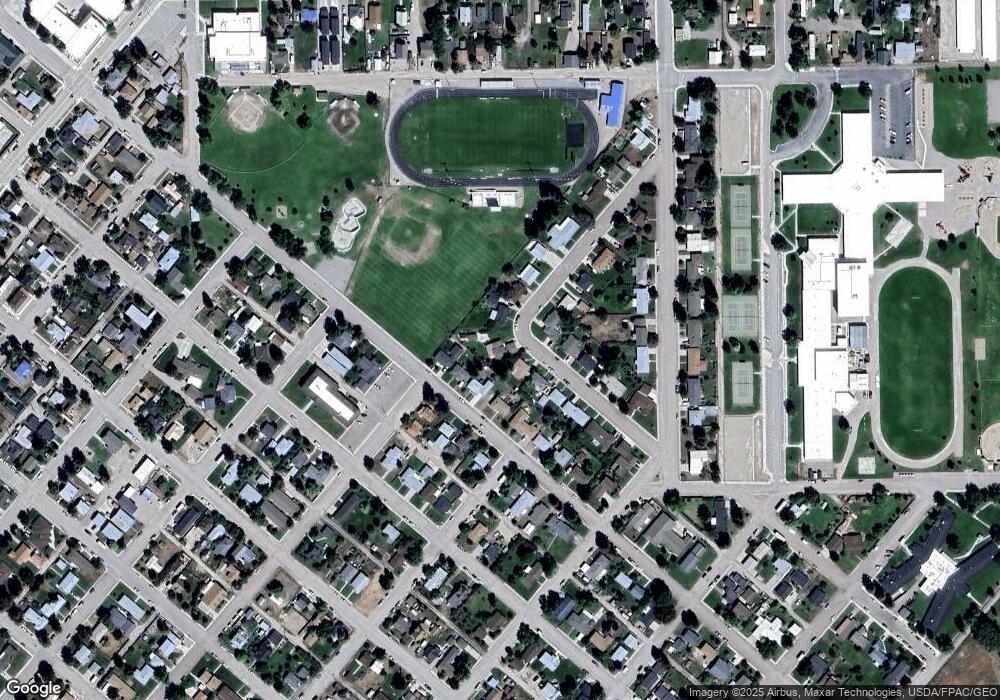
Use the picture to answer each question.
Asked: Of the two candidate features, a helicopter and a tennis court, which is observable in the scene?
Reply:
tennis court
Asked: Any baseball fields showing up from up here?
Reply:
Yes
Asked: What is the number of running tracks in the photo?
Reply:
2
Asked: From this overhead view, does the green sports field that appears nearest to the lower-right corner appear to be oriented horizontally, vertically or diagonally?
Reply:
vertically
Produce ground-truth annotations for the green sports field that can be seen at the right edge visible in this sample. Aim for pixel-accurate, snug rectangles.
[879,268,952,459]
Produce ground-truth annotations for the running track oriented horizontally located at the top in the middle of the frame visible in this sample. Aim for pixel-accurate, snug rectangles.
[389,86,600,185]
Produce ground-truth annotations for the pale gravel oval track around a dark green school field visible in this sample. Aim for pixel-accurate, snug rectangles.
[871,260,963,466]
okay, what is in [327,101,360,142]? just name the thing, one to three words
baseball field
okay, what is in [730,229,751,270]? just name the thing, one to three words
tennis court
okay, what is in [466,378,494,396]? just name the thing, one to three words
house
